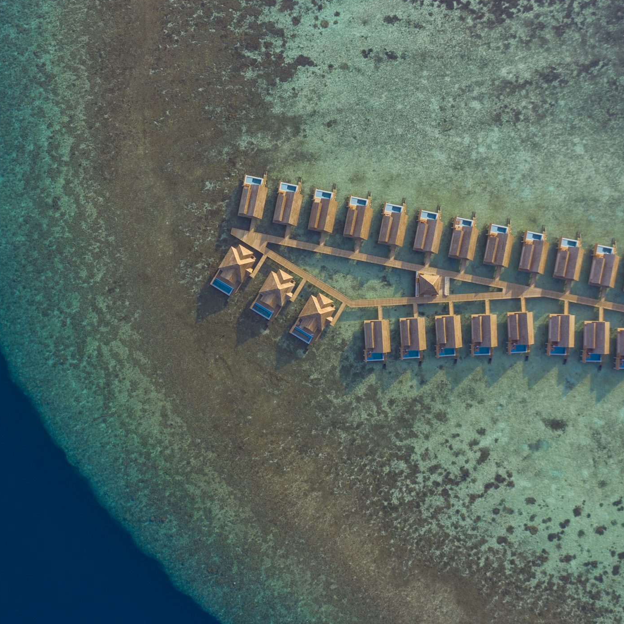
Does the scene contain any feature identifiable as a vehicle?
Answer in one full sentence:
No, the frame has no vehicle in it.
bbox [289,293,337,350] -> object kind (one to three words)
house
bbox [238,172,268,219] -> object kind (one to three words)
house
